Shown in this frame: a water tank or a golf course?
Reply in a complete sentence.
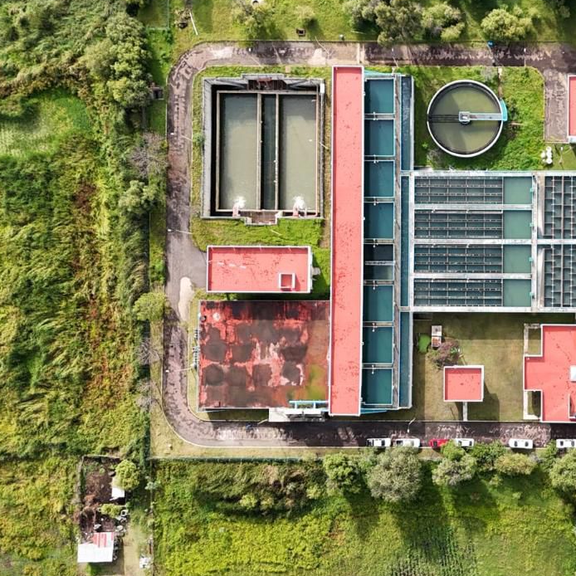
The one in the frame is a water tank.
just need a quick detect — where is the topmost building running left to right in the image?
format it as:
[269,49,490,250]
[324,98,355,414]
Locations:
[208,245,321,293]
